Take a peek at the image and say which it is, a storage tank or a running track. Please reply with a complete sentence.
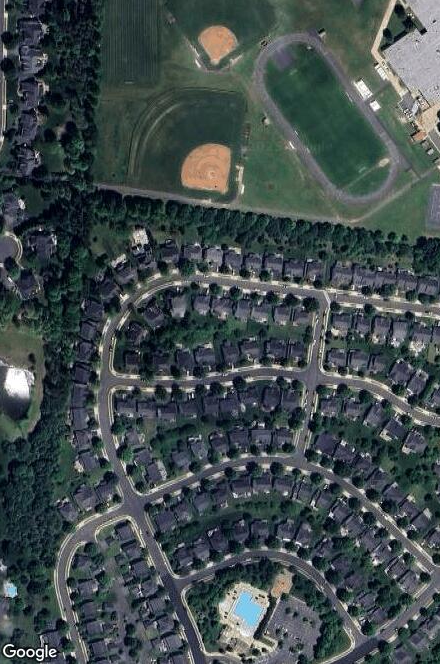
Looking from above, you can make out a running track.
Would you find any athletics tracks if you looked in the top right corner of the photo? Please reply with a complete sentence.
Yes, an athletics track is visible in the top right corner of the photo.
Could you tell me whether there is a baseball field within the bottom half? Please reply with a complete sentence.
No, looking within the bottom half, there is no baseball field.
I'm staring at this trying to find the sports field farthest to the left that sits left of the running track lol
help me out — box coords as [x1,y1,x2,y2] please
[104,0,160,87]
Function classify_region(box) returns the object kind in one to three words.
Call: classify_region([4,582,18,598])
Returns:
swimming pool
